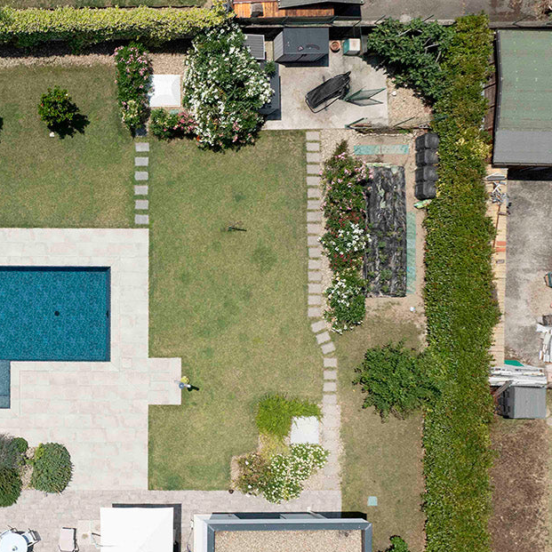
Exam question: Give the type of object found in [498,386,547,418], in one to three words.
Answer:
shed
